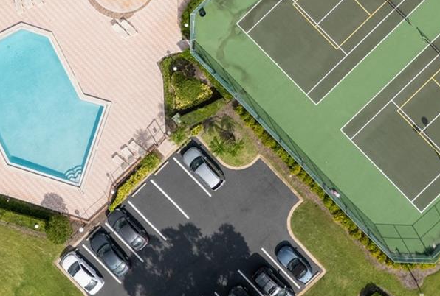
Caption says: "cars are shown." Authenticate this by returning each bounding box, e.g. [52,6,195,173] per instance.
[86,228,132,275]
[252,263,293,296]
[105,207,151,252]
[60,249,107,296]
[274,240,317,287]
[181,143,226,190]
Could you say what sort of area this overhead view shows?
sports ground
